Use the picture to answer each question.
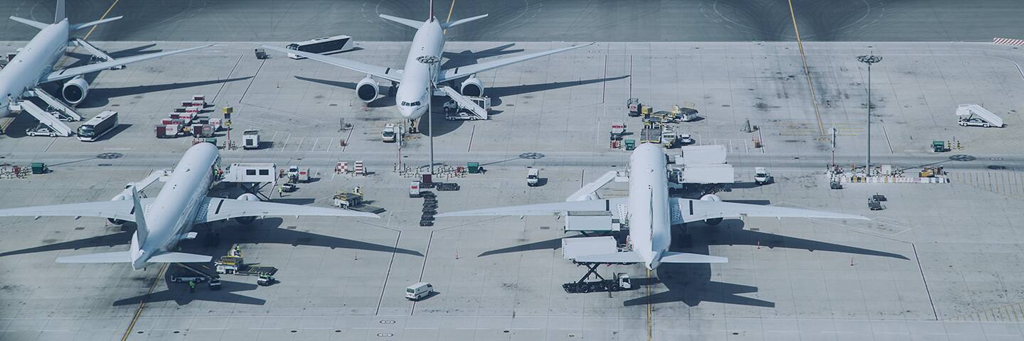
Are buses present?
Yes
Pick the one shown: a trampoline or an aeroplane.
aeroplane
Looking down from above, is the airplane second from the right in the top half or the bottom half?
top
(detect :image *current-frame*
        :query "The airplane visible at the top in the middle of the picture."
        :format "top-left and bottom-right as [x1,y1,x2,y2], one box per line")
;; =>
[261,0,597,133]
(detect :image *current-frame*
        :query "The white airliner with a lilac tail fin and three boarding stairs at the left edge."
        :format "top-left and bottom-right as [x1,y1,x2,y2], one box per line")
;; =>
[0,0,214,134]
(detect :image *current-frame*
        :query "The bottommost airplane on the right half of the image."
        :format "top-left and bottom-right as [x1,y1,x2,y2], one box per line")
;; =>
[433,144,867,272]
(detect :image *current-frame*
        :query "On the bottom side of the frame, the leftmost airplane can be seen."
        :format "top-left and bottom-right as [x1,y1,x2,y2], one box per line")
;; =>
[0,146,375,273]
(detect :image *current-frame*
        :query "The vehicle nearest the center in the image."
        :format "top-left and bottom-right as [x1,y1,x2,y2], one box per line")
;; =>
[527,167,540,186]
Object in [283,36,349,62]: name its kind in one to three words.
bus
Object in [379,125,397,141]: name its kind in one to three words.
vehicle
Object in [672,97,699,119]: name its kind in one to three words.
work vehicle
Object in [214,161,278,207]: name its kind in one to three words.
truck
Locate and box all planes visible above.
[261,0,597,133]
[433,144,867,272]
[0,0,214,134]
[0,146,375,273]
